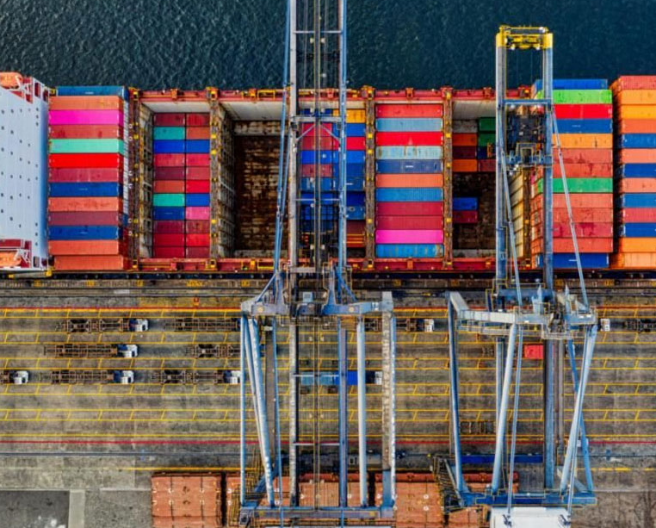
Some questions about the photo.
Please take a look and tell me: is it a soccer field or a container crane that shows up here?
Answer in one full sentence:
Of the two, only a container crane appears.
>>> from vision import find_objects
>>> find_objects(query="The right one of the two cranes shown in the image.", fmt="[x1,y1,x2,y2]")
[426,24,607,528]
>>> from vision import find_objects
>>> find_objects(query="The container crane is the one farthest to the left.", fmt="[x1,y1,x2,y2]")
[221,0,414,528]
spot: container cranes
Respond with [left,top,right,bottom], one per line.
[426,24,607,528]
[221,0,414,528]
